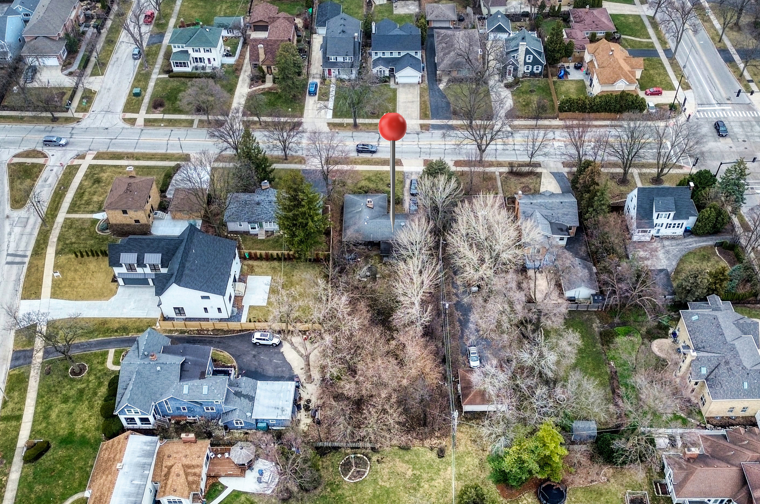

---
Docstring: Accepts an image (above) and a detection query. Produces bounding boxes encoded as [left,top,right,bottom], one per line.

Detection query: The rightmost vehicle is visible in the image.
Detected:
[712,118,730,137]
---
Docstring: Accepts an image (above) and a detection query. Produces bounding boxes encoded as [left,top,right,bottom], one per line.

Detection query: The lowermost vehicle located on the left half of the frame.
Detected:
[249,330,281,347]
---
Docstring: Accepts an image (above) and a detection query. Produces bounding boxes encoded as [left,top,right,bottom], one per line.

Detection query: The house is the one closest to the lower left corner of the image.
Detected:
[85,418,214,504]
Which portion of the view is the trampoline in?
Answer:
bottom right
